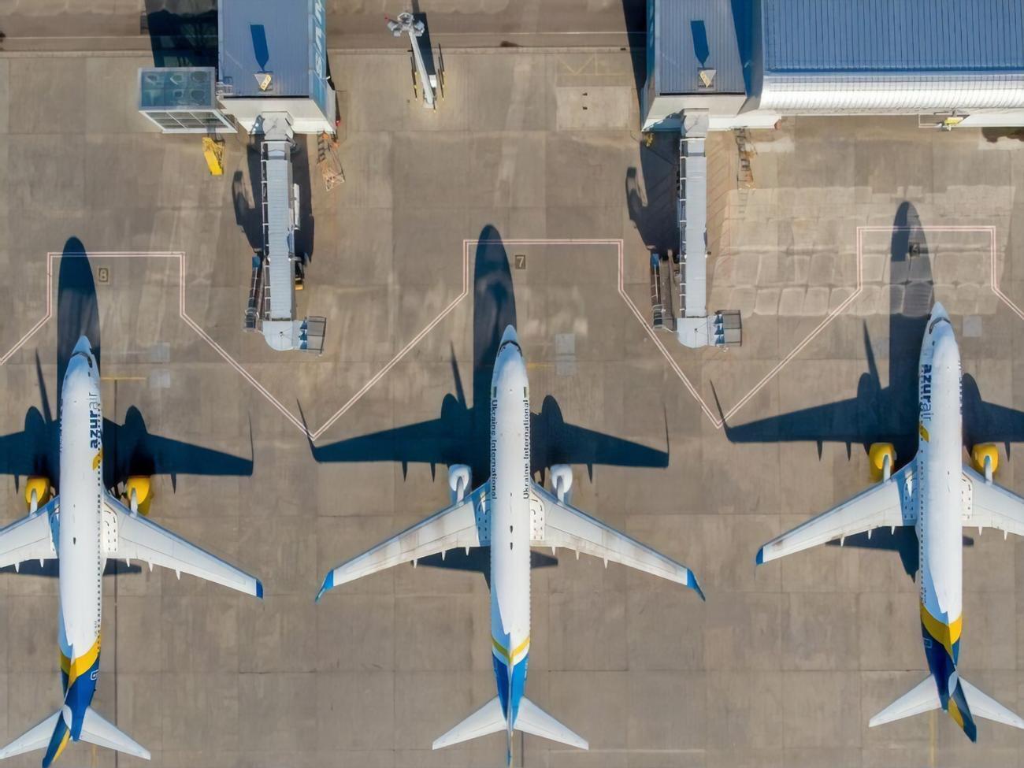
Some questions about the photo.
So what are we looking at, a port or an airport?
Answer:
airport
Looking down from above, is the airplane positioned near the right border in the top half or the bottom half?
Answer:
bottom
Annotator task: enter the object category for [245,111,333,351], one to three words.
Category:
jet bridge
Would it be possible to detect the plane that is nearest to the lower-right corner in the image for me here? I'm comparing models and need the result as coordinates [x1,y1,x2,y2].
[757,302,1024,743]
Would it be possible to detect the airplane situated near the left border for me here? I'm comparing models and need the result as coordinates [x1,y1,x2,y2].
[0,336,266,768]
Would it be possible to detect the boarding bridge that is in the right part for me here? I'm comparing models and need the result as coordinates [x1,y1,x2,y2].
[648,110,743,349]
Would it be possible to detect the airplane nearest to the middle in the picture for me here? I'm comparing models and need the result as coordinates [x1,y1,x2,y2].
[315,325,707,761]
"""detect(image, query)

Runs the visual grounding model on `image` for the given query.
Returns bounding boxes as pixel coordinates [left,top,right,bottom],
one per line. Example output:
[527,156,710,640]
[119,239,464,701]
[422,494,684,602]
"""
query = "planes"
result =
[315,325,707,761]
[757,302,1024,743]
[0,336,266,768]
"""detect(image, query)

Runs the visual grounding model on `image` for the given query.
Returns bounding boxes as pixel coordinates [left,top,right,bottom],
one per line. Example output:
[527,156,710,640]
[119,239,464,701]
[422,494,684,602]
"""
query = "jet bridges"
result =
[648,110,743,349]
[245,111,333,351]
